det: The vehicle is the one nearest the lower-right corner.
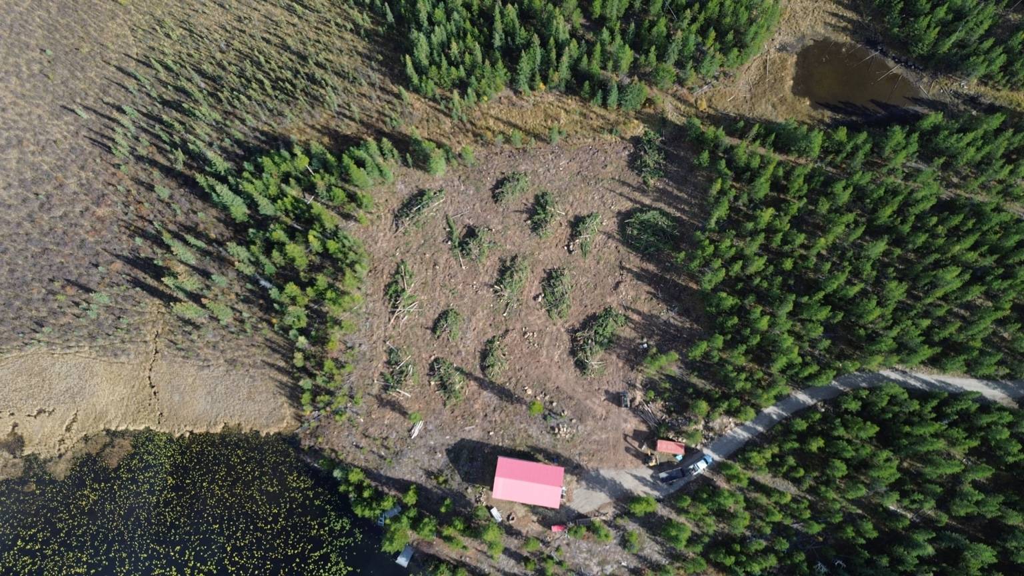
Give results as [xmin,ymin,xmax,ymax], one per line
[685,451,717,477]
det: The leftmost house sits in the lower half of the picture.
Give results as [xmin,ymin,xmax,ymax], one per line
[492,457,567,509]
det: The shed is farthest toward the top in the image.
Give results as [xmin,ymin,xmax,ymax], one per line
[655,439,686,455]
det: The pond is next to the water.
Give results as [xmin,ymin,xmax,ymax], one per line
[788,38,929,123]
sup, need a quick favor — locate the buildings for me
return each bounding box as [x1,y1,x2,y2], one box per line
[655,439,686,455]
[492,457,567,509]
